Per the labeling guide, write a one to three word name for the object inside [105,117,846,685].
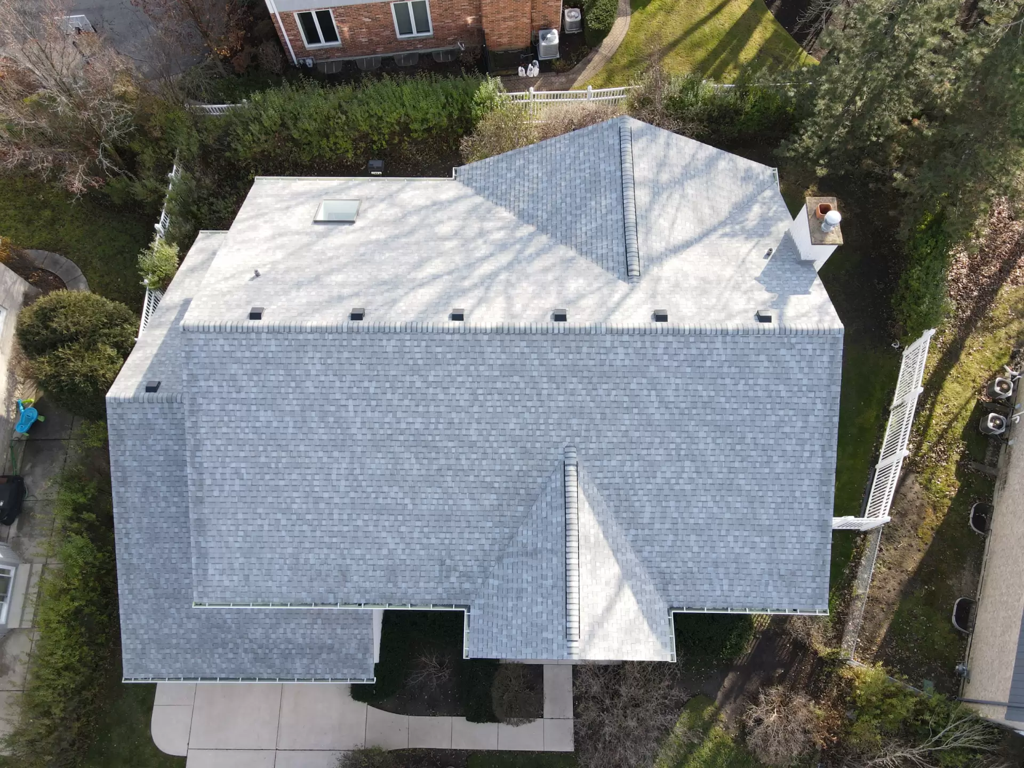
house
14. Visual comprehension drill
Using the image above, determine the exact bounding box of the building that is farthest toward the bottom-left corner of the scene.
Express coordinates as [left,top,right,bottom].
[0,546,49,638]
